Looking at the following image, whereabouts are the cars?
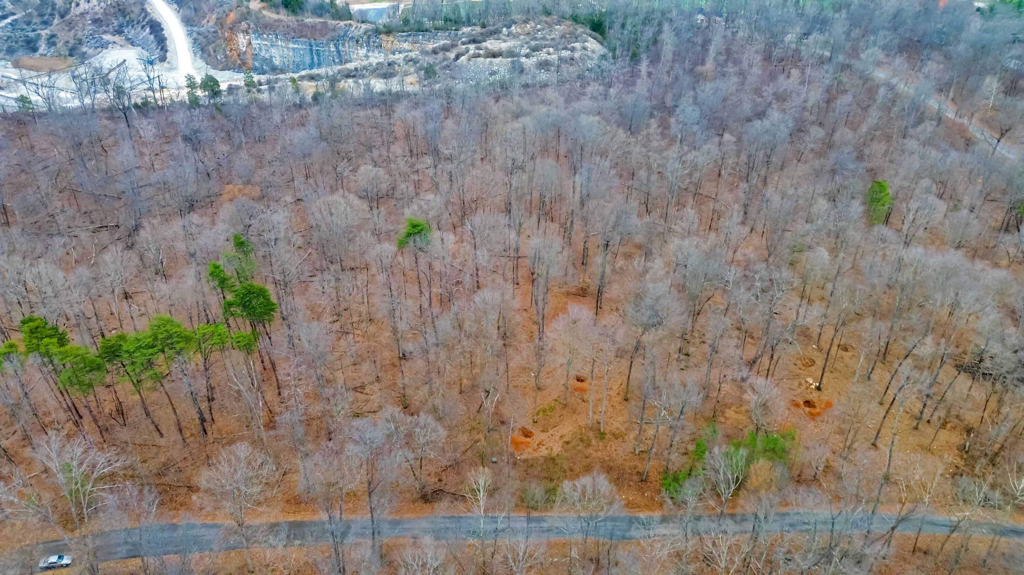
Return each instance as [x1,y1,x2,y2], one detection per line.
[37,556,72,574]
